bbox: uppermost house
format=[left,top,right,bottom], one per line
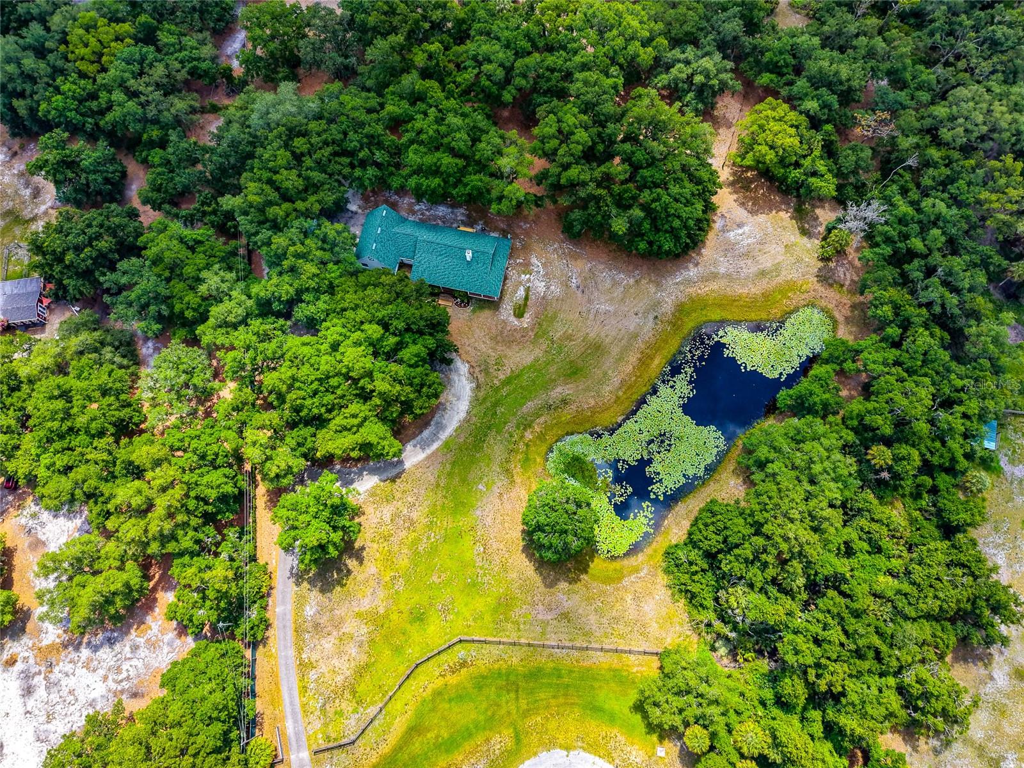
[349,203,515,306]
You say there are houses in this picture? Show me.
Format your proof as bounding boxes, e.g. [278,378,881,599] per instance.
[0,275,51,339]
[349,203,515,306]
